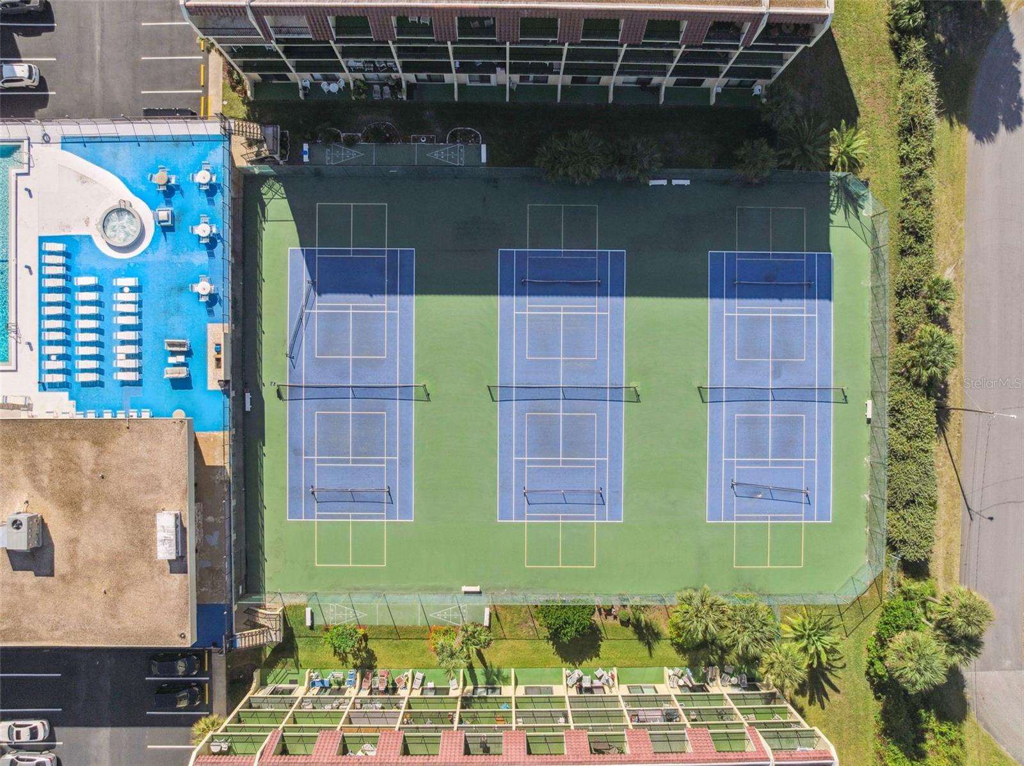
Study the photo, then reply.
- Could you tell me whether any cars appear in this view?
Yes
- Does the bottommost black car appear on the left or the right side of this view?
left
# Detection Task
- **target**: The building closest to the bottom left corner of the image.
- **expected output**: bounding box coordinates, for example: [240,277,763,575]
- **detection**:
[0,418,198,650]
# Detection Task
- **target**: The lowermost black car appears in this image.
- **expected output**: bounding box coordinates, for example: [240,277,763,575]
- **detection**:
[156,684,207,711]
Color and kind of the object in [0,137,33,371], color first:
white swimming pool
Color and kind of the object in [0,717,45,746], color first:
white car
